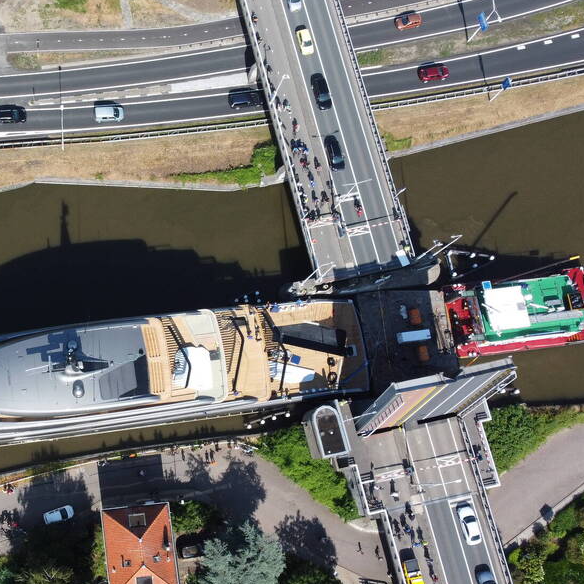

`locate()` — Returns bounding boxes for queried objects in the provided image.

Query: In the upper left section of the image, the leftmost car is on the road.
[0,104,26,122]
